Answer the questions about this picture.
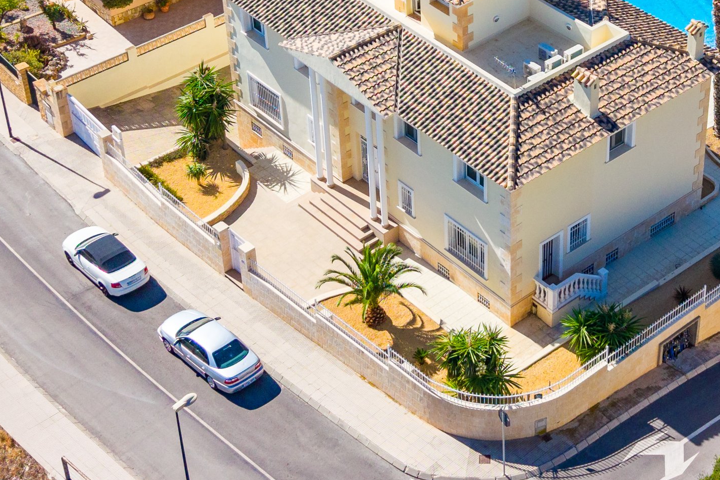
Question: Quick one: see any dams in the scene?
No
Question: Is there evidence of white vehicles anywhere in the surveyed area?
Yes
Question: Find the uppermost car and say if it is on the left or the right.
left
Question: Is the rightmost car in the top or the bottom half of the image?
bottom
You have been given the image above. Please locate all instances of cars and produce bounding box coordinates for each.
[58,222,149,297]
[155,305,259,391]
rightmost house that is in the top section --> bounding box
[222,0,720,327]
